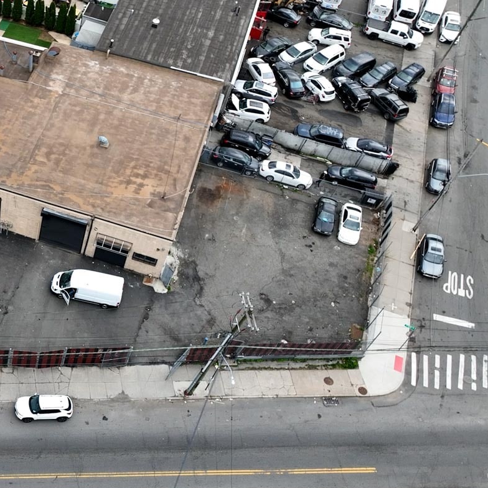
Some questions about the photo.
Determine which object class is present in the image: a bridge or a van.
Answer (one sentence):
I can see a van in this picture.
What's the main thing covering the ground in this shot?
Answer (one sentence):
For the most part, this view shows paved ground.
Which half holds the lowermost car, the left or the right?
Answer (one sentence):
The lowermost car sits on the left side.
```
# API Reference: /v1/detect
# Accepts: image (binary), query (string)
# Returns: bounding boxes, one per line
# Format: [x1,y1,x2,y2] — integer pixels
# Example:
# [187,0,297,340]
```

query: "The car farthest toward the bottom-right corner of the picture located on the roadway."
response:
[416,232,448,281]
